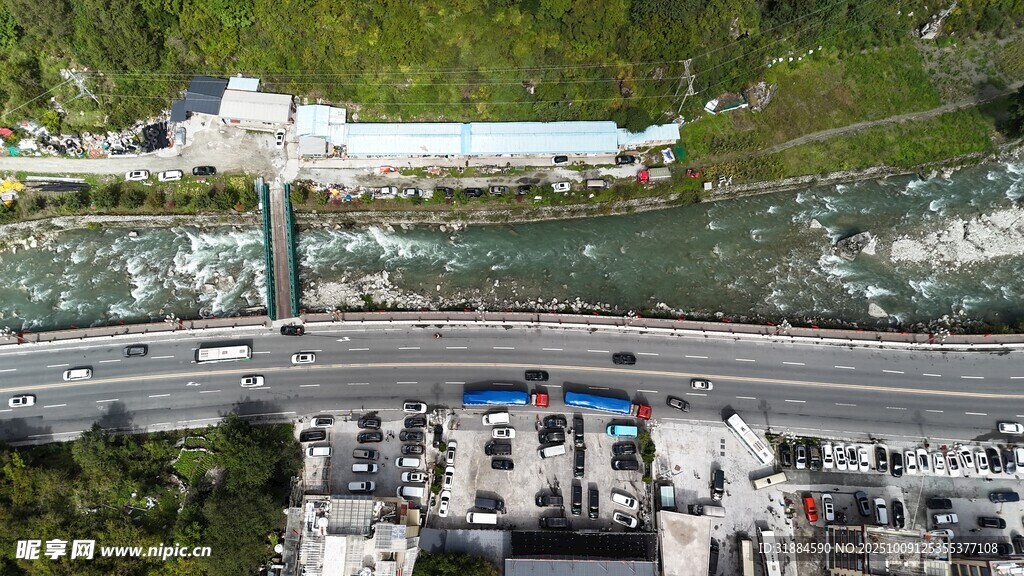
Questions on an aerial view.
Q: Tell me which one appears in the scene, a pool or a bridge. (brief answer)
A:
bridge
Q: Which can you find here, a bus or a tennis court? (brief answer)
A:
bus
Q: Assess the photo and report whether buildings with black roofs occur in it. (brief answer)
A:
Yes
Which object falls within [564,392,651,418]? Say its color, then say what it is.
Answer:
blue truck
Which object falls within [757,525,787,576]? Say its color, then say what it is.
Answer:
white bus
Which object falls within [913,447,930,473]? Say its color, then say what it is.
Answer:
white car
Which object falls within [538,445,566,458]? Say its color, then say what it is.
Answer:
white vehicle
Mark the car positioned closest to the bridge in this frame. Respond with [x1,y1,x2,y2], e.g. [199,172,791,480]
[280,324,304,336]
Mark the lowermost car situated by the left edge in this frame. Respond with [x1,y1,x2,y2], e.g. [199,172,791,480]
[9,394,36,406]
